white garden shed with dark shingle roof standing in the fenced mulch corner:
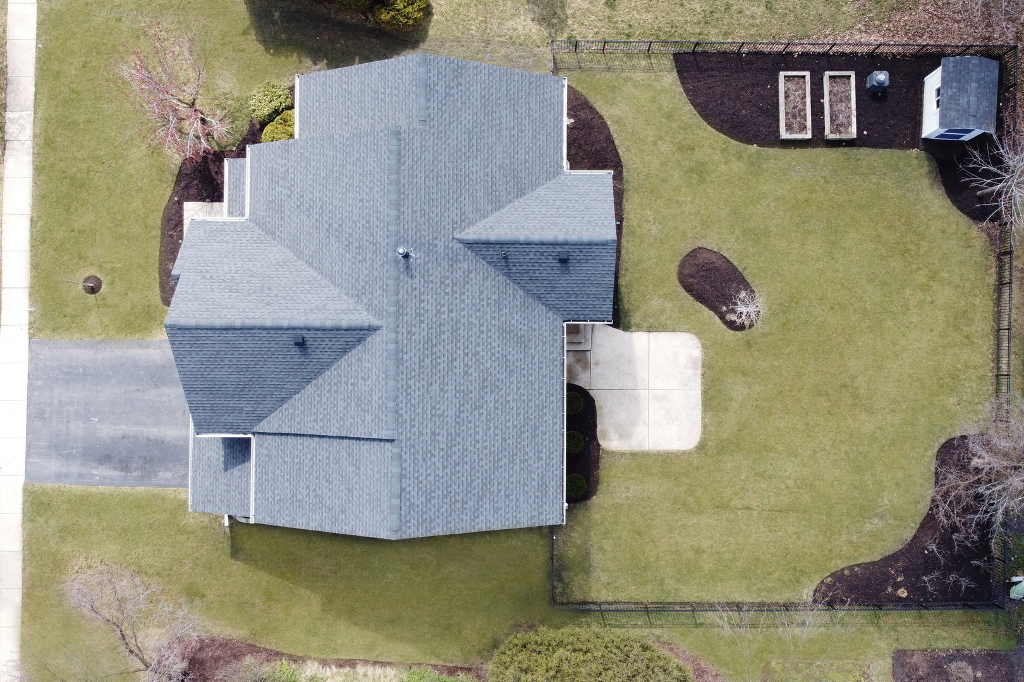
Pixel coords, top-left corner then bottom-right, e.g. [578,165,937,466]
[922,57,996,140]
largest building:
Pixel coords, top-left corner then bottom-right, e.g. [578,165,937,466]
[166,55,616,539]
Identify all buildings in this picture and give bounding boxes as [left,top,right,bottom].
[166,55,616,539]
[922,57,996,140]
